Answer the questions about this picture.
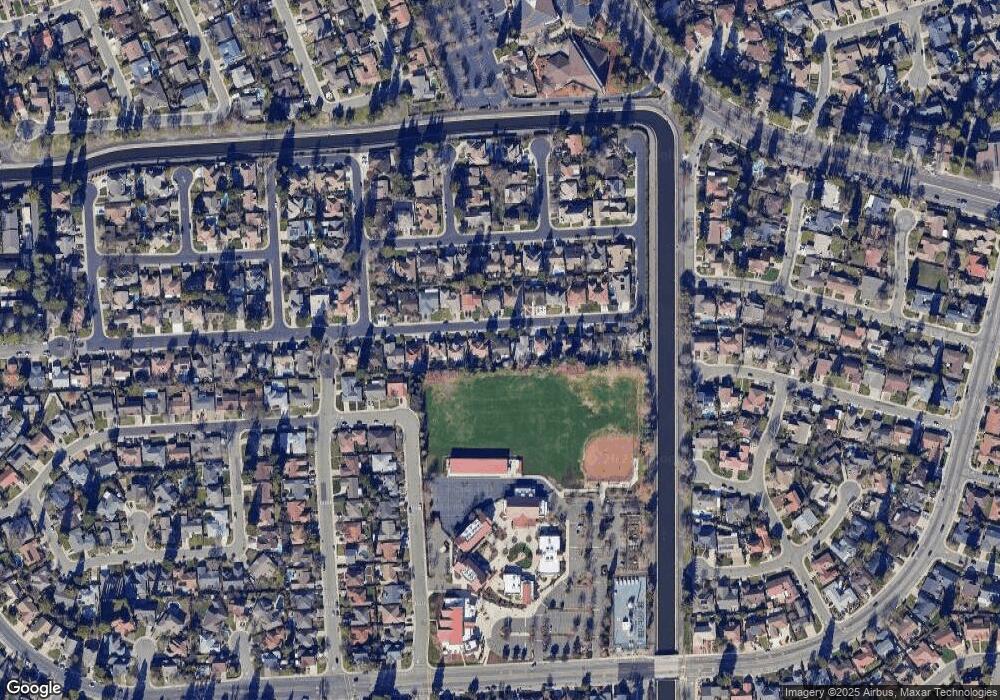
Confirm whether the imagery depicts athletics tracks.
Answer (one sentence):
No, no athletics track is visible in the scene.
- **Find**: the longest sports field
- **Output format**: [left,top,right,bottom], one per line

[429,368,645,487]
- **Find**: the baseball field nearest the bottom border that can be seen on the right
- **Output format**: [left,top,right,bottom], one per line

[584,433,639,488]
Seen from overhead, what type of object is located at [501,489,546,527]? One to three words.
building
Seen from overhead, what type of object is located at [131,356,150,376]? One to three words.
house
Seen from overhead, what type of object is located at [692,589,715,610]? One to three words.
house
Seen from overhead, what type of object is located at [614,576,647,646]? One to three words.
building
